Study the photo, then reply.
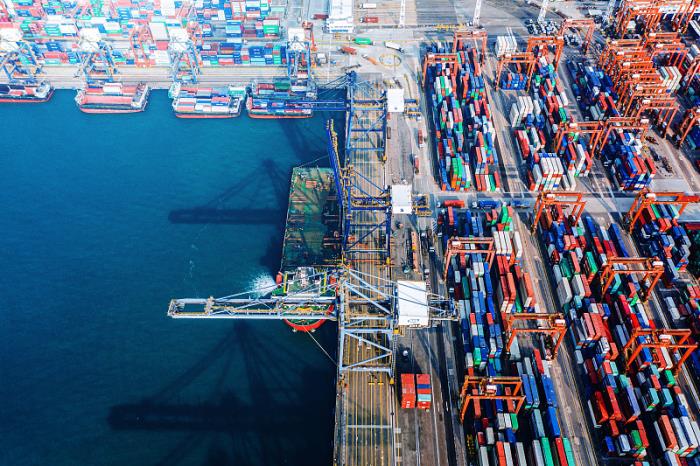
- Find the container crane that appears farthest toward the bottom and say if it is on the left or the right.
right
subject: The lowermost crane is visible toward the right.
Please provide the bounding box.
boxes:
[459,375,531,424]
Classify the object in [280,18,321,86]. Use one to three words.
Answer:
container crane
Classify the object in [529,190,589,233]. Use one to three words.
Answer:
container crane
